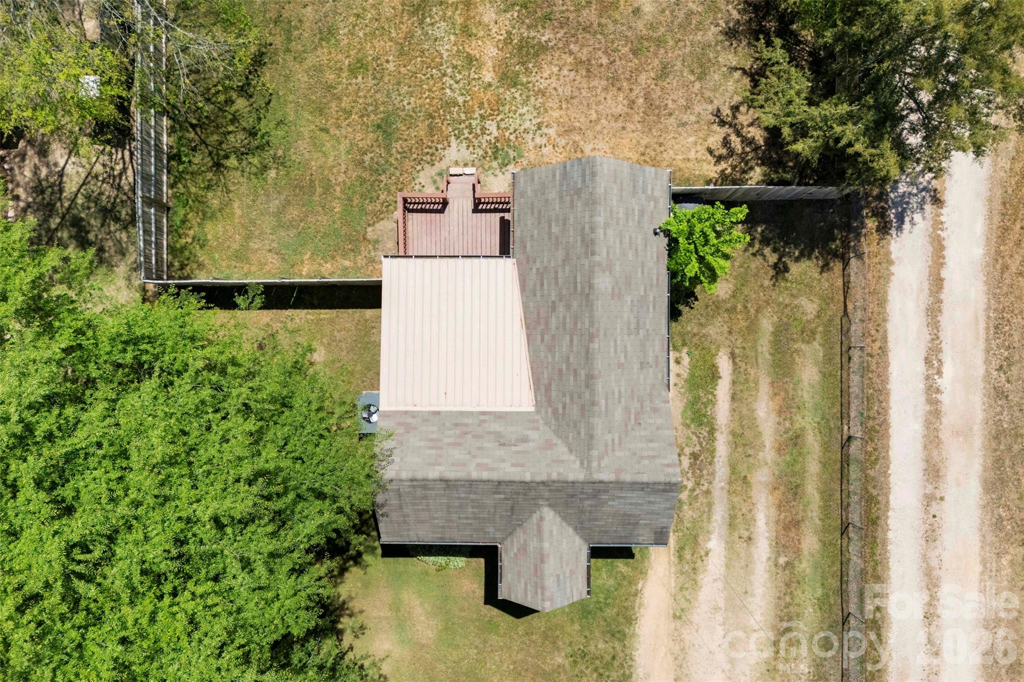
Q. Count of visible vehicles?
0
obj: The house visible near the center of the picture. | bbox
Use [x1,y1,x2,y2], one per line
[370,157,681,612]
